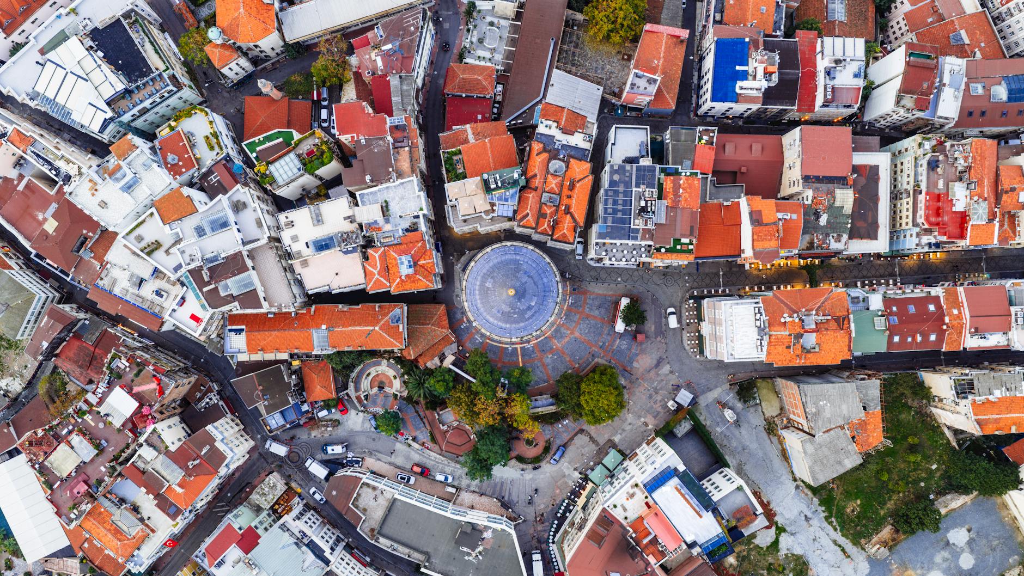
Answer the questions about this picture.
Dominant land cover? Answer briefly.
buildings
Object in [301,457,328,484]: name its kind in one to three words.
truck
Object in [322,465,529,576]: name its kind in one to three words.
building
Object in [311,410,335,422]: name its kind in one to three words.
vehicle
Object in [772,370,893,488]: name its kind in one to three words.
house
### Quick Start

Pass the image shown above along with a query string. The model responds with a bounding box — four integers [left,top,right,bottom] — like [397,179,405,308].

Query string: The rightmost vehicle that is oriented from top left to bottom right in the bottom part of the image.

[716,396,736,421]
